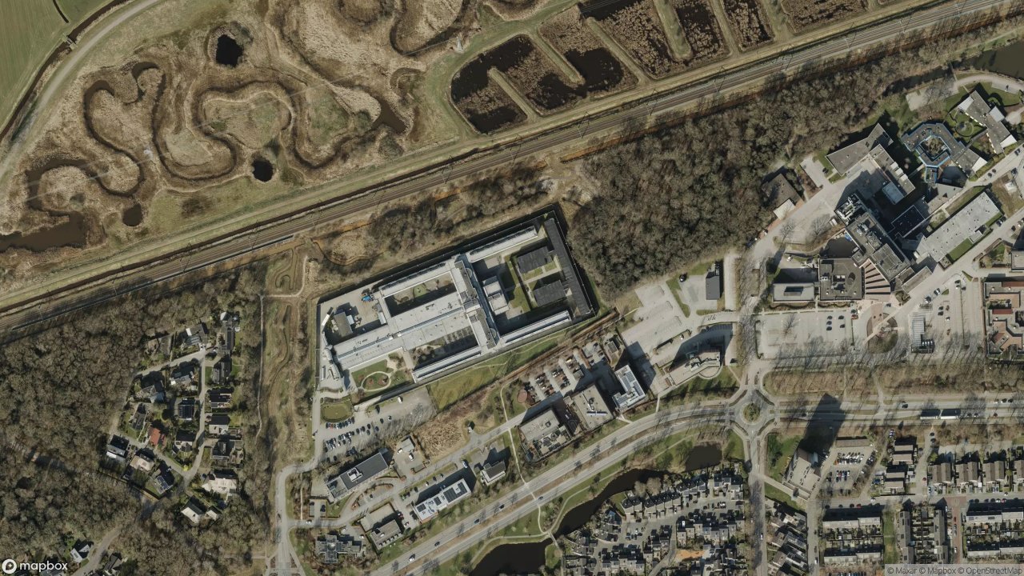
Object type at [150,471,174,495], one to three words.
house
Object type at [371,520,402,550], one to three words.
building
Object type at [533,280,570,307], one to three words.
building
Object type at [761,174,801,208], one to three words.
house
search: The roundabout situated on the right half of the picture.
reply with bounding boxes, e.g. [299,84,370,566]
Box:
[731,381,772,446]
